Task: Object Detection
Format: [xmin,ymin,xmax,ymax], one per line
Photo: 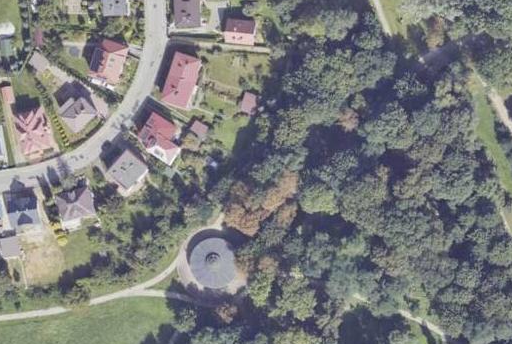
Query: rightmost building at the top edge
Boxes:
[222,17,257,48]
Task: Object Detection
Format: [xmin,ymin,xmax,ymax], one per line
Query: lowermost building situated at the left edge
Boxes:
[0,235,22,258]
